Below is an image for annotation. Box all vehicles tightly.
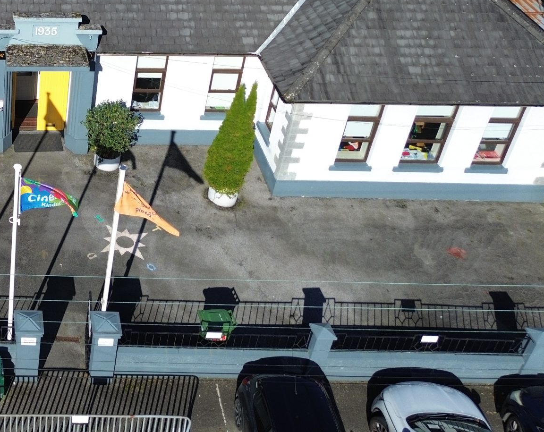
[498,386,544,432]
[367,384,502,432]
[236,362,354,432]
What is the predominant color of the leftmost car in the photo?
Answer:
black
